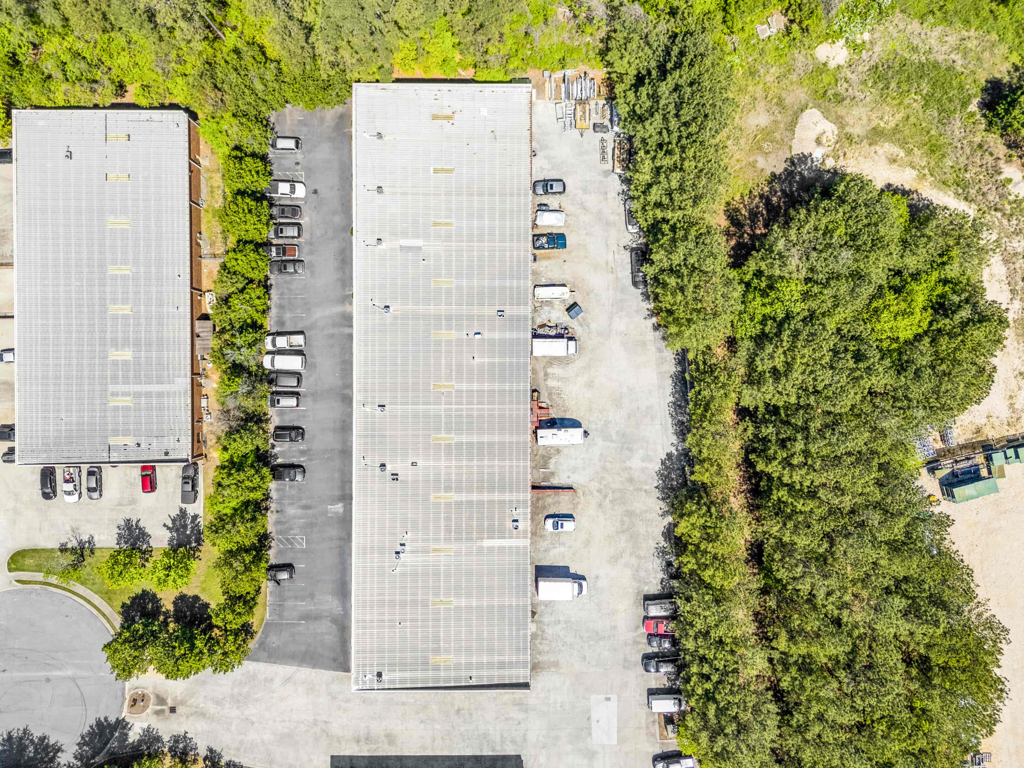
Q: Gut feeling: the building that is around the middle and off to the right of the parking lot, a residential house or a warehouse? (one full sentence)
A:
I'd say the building that is around the middle and off to the right of the parking lot is a warehouse.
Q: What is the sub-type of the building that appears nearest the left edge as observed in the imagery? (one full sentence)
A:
The building that appears nearest the left edge in the image is a warehouse.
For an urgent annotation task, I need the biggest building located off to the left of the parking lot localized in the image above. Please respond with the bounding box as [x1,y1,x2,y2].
[8,107,204,464]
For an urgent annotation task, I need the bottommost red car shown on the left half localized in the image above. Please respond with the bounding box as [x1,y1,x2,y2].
[139,463,157,494]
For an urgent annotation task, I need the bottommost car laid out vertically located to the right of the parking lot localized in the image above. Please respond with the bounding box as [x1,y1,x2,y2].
[631,248,649,289]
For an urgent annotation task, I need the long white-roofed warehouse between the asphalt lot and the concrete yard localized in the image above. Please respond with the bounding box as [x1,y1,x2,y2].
[352,82,534,692]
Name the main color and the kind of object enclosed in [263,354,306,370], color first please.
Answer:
white vehicle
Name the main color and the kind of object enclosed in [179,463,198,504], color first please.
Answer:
gray vehicle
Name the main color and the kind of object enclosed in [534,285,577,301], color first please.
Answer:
white boat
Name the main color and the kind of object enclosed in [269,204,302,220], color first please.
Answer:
gray car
